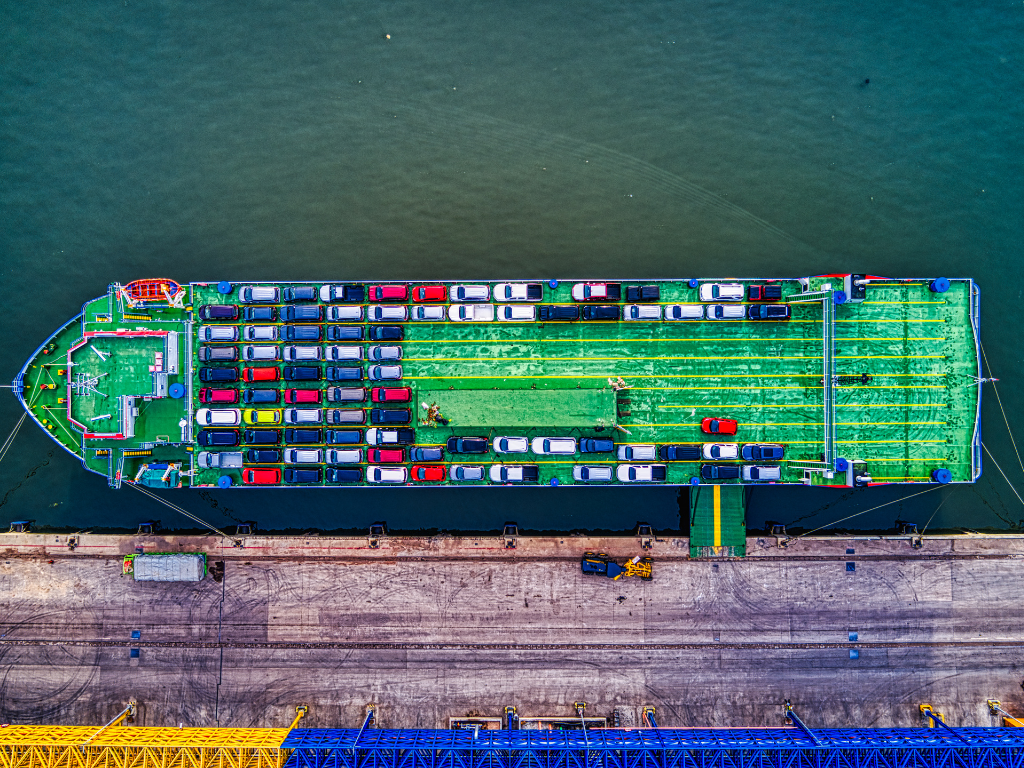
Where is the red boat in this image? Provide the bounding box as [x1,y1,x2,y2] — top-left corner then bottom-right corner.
[125,279,183,301]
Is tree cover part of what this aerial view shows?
No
